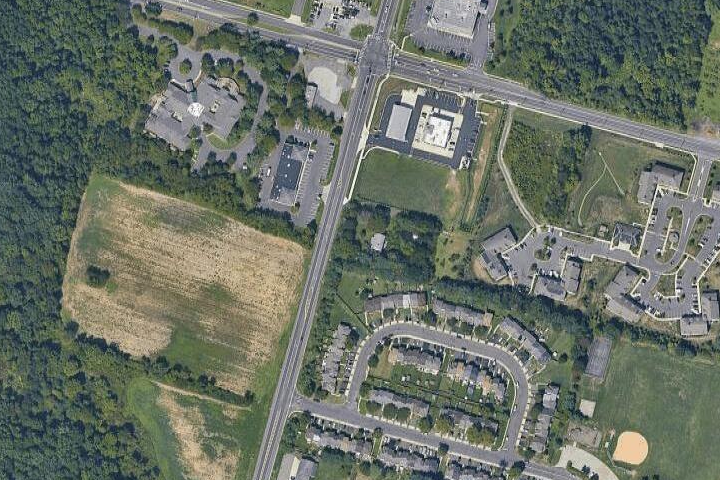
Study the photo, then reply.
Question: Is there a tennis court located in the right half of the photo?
Yes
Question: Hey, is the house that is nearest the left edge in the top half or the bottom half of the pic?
top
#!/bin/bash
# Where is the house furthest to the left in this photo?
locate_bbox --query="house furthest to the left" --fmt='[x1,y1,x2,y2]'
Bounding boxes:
[143,73,249,152]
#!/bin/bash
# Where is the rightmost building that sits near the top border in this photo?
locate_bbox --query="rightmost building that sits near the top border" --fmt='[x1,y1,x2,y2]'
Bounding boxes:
[430,0,487,36]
